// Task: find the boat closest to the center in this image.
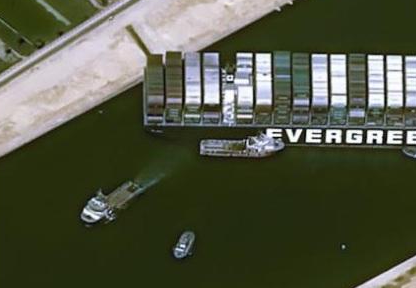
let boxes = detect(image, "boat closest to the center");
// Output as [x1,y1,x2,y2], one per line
[199,132,286,157]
